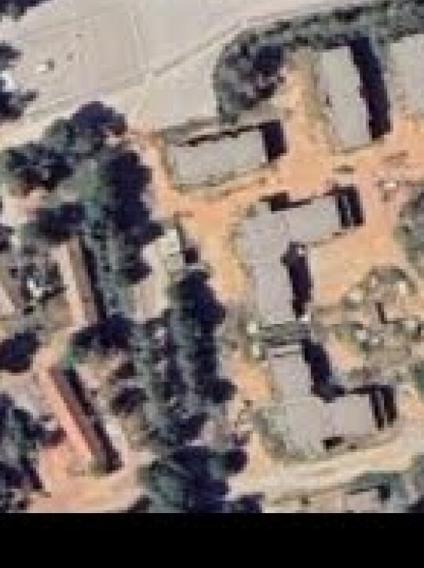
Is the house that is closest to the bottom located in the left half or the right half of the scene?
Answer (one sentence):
It is on the right.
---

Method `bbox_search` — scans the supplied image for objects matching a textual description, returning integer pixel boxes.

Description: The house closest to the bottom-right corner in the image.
[347,492,386,514]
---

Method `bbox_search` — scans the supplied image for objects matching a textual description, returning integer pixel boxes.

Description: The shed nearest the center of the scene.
[151,232,182,272]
